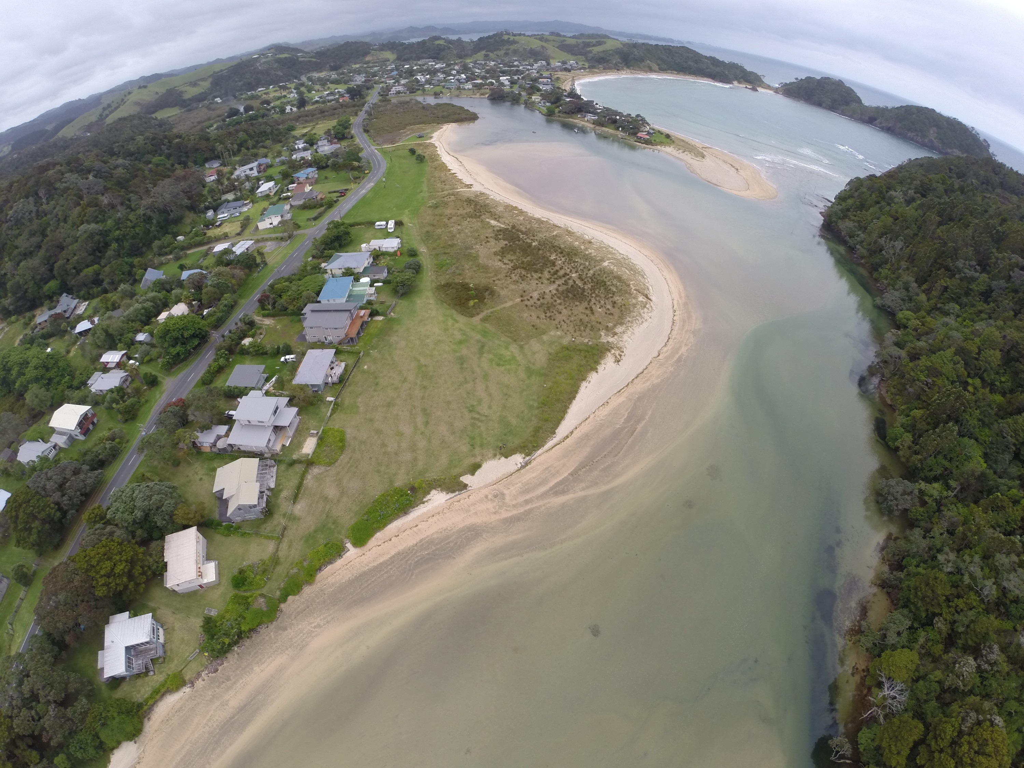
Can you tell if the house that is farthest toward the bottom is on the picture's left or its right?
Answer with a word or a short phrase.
left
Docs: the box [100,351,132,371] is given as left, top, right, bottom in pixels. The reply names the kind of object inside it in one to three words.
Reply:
house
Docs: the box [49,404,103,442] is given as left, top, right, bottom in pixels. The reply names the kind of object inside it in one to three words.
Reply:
house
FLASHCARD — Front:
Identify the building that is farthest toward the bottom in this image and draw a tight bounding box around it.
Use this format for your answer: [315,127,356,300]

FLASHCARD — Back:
[98,611,166,681]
